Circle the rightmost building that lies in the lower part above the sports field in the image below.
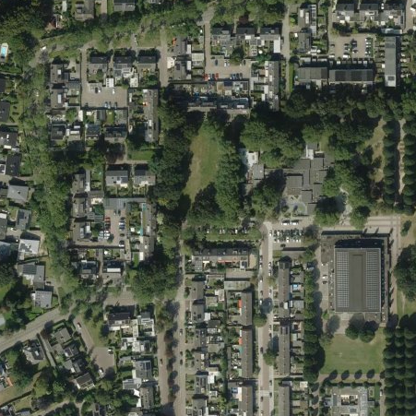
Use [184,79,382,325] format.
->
[322,235,380,312]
